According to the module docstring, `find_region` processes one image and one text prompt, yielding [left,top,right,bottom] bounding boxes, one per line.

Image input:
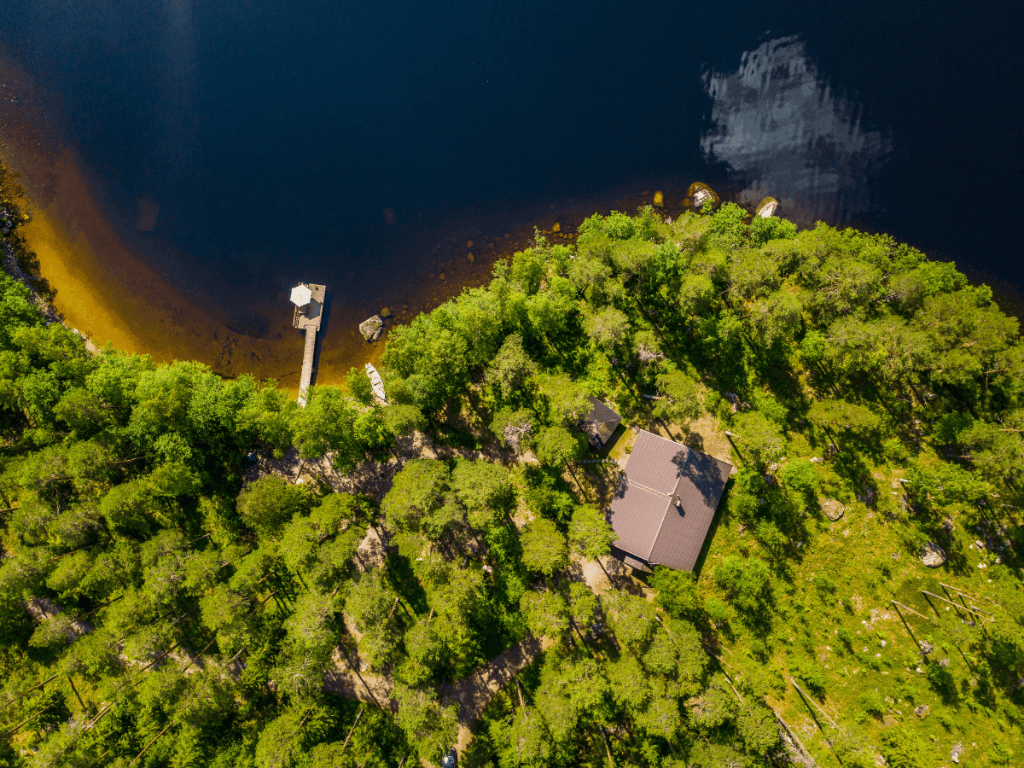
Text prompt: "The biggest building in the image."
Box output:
[602,430,730,574]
